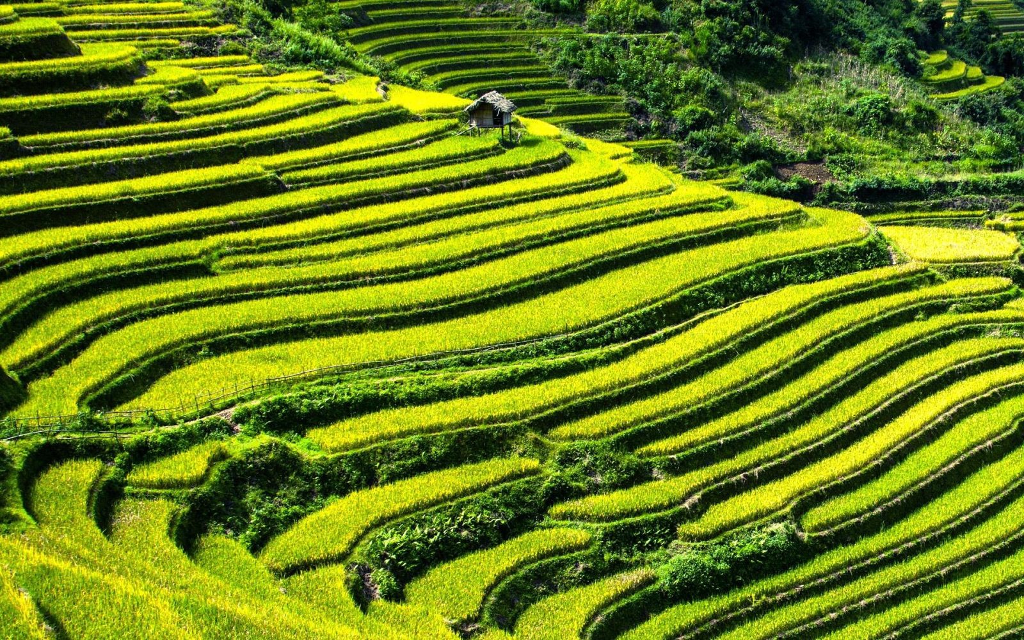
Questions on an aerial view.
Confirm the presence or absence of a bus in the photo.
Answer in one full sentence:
No, I can see no bus in this picture.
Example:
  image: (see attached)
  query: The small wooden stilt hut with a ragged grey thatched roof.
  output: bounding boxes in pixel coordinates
[466,89,516,141]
